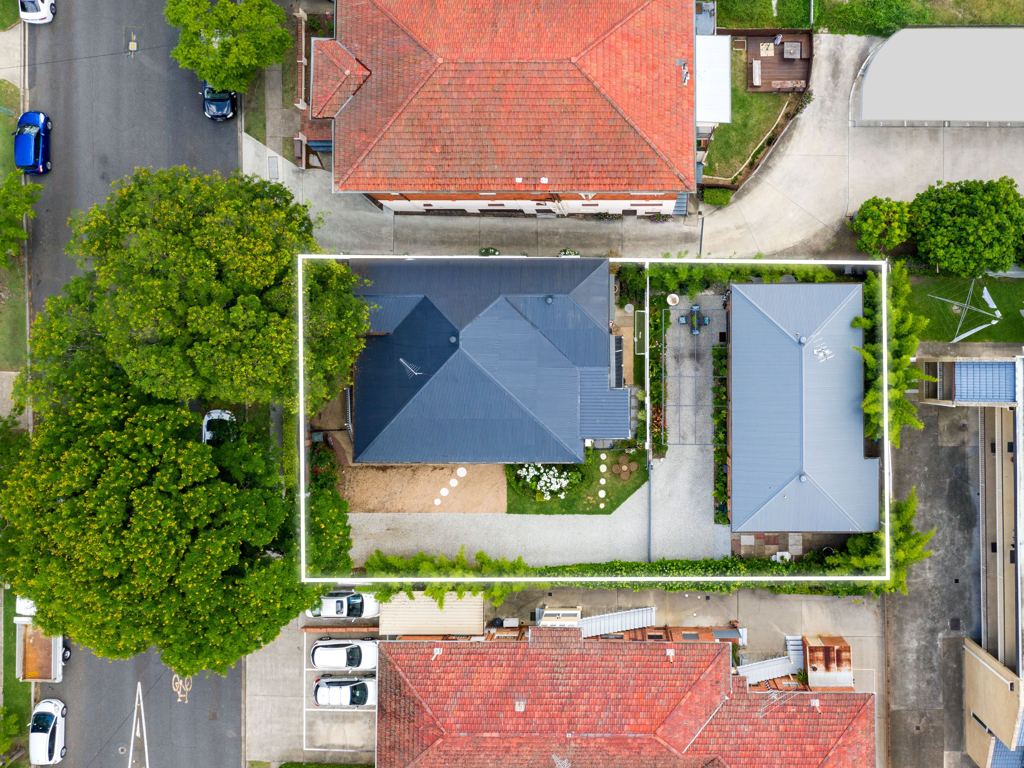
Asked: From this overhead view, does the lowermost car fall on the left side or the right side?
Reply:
left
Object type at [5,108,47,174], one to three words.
car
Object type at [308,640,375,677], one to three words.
car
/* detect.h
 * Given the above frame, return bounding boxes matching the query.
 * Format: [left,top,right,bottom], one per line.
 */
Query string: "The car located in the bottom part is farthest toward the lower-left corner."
[21,700,62,768]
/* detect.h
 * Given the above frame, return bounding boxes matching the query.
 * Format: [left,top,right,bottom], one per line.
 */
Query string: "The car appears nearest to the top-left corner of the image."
[14,0,52,23]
